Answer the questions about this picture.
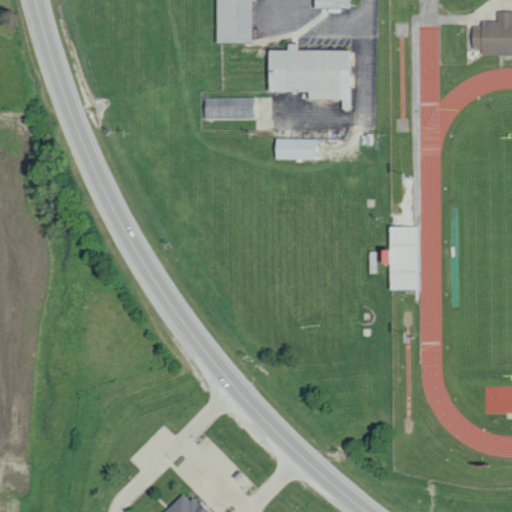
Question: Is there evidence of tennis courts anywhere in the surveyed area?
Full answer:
No, the picture doesn't show any tennis court.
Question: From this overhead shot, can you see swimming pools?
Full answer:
No, no swimming pool is visible in the scene.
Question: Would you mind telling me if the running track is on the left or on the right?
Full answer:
The running track is on the right side of the image.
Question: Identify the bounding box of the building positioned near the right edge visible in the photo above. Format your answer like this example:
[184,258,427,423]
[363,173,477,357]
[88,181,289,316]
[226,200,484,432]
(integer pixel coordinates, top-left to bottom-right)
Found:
[472,10,512,54]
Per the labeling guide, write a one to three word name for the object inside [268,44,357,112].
building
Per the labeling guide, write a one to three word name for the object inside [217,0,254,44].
barn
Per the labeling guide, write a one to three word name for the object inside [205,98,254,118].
greenhouse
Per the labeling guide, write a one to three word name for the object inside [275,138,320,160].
shed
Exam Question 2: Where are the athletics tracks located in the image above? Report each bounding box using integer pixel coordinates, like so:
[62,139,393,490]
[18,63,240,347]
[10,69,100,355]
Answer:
[420,27,512,456]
